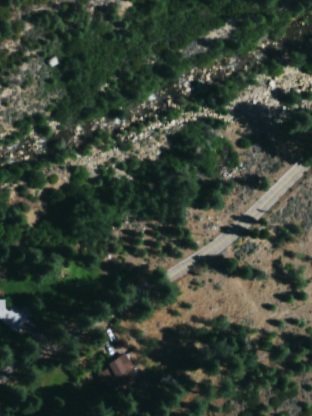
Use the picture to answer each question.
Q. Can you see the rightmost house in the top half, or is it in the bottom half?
bottom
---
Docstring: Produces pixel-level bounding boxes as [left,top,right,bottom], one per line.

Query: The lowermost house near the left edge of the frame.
[0,298,28,326]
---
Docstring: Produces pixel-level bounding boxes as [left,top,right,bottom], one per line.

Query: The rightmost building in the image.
[108,352,136,380]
